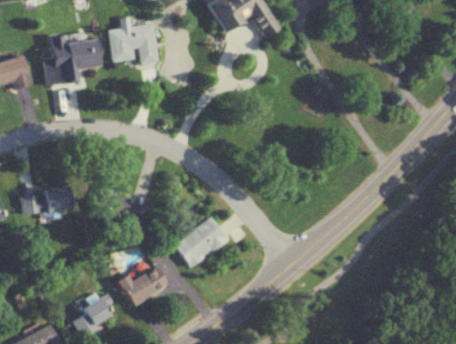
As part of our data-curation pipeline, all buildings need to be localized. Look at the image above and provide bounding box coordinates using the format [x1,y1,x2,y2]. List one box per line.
[0,200,10,225]
[178,218,233,267]
[22,198,41,214]
[206,0,284,37]
[14,322,60,344]
[43,37,104,87]
[75,290,120,333]
[0,55,37,90]
[116,266,170,311]
[108,16,160,66]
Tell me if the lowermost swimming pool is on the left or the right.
left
